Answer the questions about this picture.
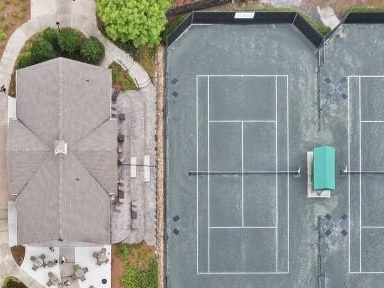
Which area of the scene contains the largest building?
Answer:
left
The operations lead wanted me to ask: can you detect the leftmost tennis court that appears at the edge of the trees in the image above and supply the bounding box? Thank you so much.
[167,23,320,288]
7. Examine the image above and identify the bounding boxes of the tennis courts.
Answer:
[167,23,320,288]
[318,23,384,288]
